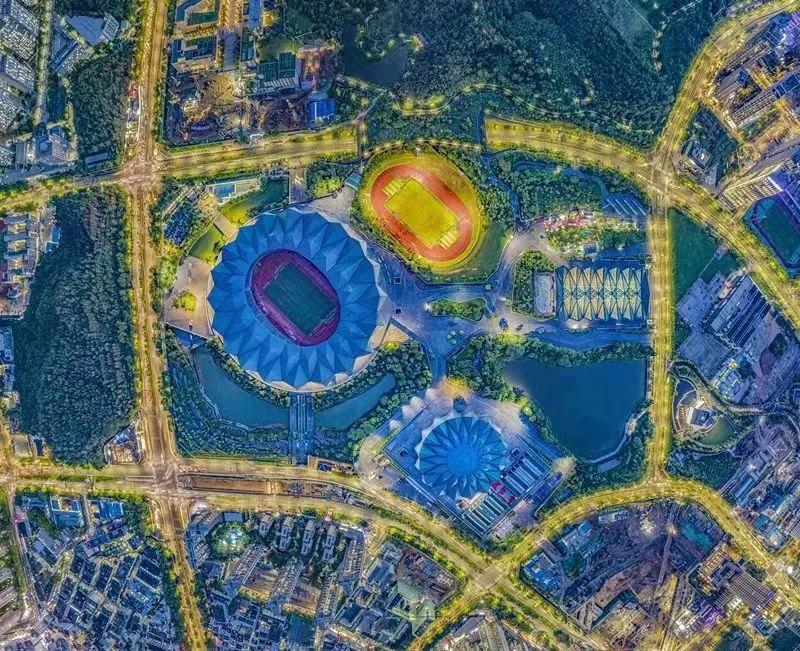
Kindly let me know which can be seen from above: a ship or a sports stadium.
sports stadium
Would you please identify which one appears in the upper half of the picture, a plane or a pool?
pool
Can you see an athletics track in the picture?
Yes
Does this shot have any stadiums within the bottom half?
Yes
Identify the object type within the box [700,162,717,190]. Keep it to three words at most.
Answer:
building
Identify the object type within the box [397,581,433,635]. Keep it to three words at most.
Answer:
building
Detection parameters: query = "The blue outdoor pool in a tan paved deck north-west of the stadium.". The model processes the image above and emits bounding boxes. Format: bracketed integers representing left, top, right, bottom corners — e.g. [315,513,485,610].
[203,178,259,204]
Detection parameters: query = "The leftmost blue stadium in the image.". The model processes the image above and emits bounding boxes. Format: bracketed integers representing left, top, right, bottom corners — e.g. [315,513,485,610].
[205,204,395,394]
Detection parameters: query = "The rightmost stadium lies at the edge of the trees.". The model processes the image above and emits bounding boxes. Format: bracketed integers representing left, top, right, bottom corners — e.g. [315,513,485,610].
[414,406,506,499]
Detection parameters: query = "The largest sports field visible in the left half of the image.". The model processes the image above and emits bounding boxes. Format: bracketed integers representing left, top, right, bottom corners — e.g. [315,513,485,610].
[252,252,345,346]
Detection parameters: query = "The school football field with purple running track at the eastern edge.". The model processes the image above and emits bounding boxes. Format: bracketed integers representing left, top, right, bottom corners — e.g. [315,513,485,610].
[747,191,800,271]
